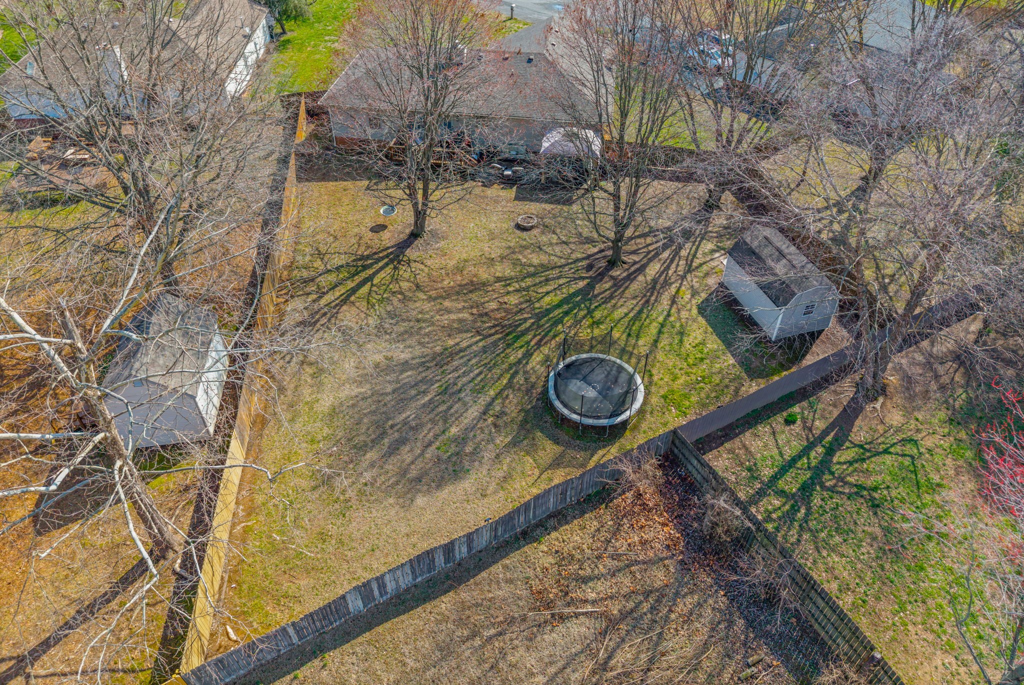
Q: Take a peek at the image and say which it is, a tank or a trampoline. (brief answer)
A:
trampoline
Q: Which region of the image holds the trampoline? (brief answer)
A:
center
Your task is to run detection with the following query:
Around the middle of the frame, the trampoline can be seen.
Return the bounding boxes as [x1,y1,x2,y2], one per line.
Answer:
[546,326,649,436]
